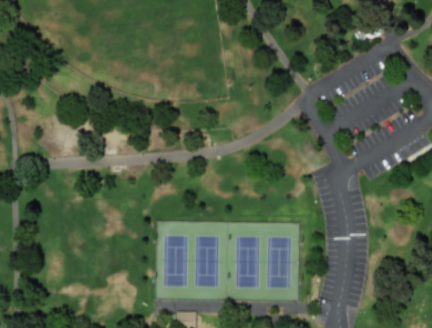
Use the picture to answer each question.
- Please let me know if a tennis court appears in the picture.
Yes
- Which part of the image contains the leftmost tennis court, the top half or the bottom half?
bottom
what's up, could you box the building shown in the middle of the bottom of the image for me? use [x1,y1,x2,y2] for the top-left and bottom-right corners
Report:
[176,312,198,328]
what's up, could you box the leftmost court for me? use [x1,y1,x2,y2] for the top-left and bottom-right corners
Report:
[158,222,192,300]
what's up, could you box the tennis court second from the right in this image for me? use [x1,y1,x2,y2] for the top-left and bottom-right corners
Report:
[228,222,264,300]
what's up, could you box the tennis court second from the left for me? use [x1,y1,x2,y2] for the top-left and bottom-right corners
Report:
[192,222,228,300]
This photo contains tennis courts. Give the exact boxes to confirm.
[158,222,192,300]
[264,222,300,300]
[192,222,228,300]
[228,222,264,300]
